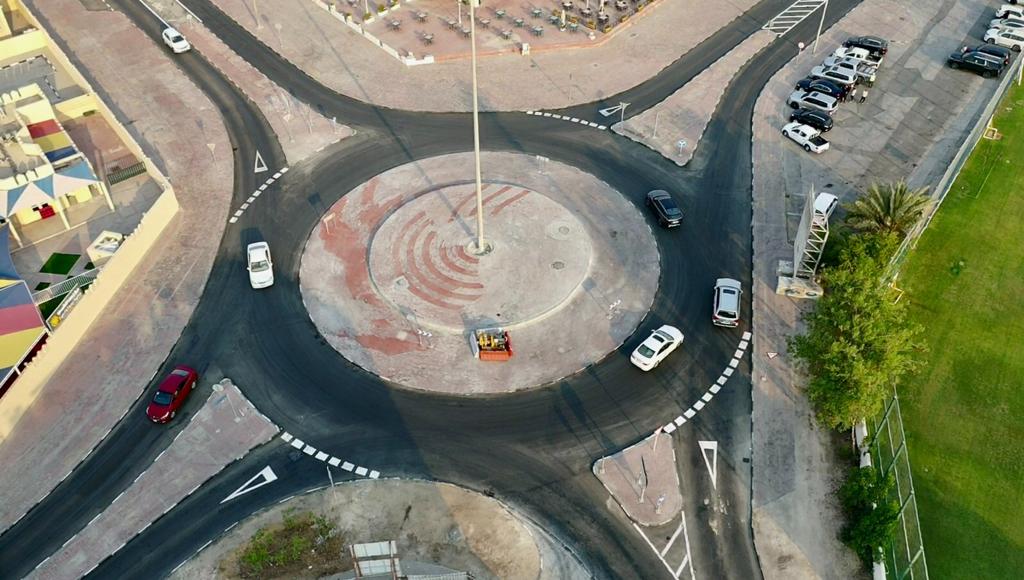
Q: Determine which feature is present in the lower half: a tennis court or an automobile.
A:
automobile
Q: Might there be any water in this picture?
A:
No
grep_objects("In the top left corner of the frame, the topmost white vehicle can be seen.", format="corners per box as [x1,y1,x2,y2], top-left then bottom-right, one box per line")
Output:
[162,27,190,53]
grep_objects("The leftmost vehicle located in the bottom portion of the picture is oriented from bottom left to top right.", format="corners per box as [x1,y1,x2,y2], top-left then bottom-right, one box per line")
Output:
[145,364,199,424]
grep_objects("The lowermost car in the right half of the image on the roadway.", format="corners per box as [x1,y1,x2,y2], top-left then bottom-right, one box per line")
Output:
[629,325,683,374]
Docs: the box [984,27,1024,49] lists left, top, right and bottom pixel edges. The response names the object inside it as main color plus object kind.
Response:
white car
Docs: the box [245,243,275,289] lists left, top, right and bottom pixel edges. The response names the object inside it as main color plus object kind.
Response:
white car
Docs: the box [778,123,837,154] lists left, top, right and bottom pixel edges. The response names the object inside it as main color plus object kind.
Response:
white truck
